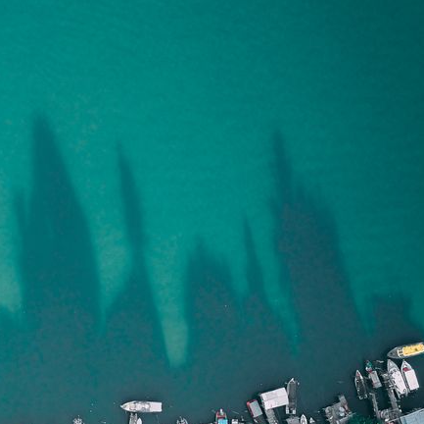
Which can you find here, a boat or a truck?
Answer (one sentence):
I can see a boat in this picture.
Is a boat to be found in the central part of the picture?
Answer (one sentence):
No, I see no boat in the central part of the picture.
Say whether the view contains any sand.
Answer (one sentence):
No, sand can't be seen anywhere here.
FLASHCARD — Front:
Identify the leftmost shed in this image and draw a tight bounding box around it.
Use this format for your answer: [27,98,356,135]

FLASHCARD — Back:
[256,387,289,411]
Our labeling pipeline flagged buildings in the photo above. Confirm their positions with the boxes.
[256,387,289,411]
[395,408,424,424]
